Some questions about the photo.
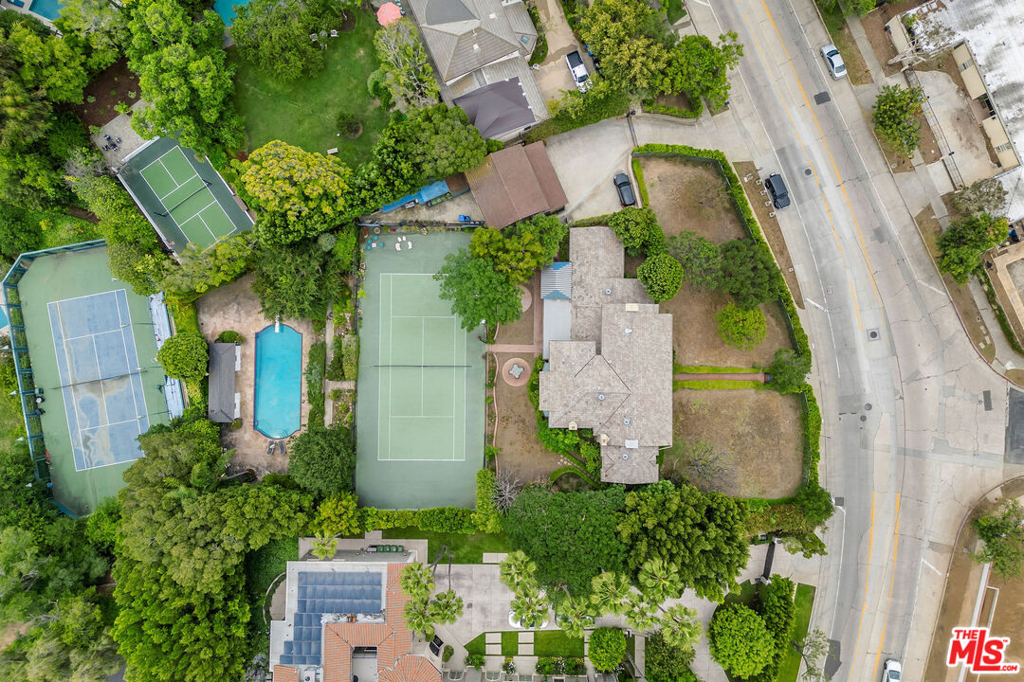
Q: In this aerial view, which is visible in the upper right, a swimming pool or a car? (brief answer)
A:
car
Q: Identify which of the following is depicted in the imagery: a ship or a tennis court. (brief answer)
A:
tennis court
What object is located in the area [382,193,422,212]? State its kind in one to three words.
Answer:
shed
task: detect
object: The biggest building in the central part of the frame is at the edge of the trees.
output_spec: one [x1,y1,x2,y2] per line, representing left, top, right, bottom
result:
[540,225,676,487]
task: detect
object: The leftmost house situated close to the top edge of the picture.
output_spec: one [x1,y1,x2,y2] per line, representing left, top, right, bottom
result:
[409,0,553,146]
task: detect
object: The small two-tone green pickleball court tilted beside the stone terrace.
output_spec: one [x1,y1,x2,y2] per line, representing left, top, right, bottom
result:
[120,129,254,269]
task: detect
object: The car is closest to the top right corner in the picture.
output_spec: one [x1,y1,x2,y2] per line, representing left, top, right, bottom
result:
[818,42,847,82]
